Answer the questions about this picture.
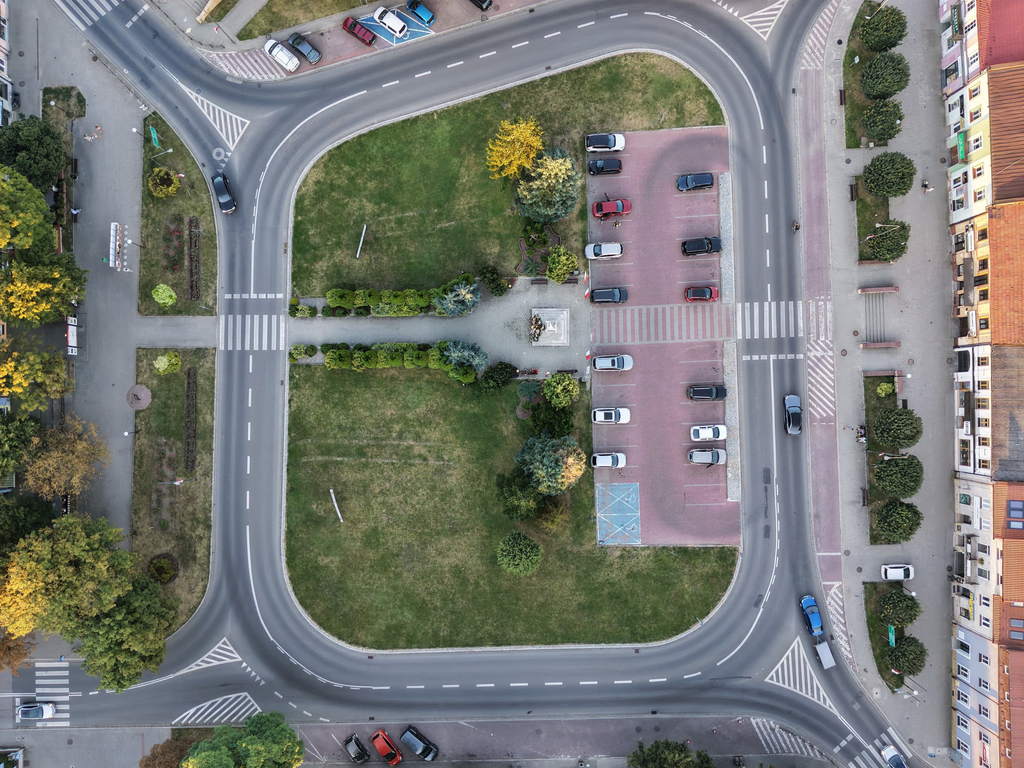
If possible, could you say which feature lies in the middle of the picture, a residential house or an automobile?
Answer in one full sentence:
There is an automobile in the middle of the picture.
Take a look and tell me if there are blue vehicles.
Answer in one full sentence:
Yes, a blue vehicle is visible in the scene.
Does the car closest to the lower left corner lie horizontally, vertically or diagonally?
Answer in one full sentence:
The car closest to the lower left corner is oriented horizontally.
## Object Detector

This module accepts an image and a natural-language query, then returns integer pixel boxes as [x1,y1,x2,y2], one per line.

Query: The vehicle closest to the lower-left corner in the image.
[17,700,58,721]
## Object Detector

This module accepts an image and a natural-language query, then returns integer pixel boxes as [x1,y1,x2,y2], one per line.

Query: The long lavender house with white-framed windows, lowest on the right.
[947,614,1024,768]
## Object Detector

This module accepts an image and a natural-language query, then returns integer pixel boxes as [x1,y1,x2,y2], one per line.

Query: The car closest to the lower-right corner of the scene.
[878,740,907,768]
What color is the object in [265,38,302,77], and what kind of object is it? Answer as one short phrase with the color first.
white van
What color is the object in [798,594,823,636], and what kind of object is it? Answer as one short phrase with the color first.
blue car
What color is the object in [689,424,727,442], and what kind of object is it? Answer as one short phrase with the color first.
white car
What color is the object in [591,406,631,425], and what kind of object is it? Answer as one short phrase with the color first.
white car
